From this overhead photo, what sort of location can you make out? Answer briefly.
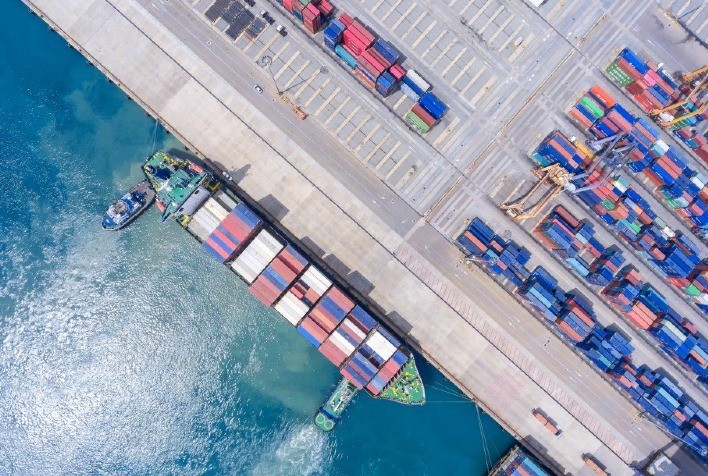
port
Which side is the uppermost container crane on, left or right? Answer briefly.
right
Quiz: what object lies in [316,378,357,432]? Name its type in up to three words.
boat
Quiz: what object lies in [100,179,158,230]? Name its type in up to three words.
boat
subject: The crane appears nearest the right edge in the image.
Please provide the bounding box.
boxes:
[652,66,708,131]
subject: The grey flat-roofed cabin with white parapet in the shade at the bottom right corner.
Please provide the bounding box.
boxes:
[637,441,679,476]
